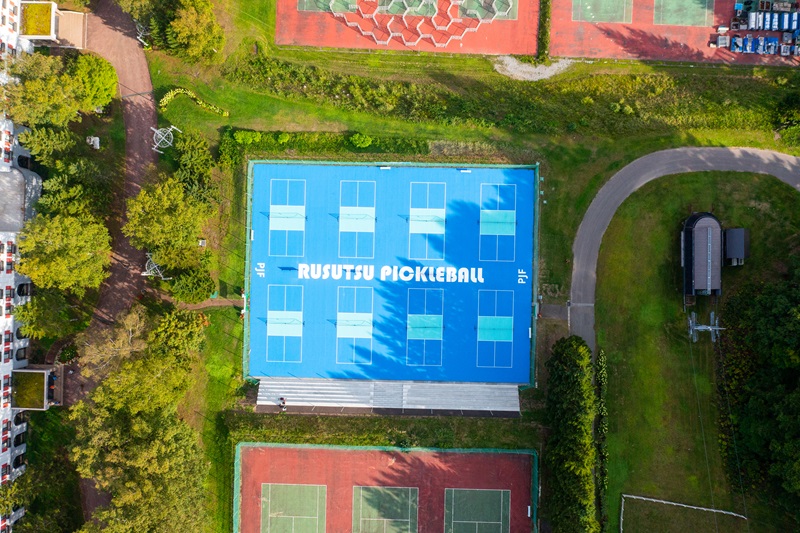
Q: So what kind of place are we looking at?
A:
sports ground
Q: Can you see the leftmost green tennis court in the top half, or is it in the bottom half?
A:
bottom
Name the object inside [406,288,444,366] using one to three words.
sports court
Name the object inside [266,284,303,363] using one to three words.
sports court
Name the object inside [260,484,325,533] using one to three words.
tennis court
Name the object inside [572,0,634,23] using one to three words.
tennis court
